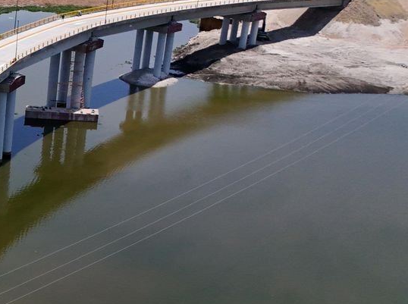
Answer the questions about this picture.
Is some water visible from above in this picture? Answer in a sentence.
Yes, water can be seen from above here.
